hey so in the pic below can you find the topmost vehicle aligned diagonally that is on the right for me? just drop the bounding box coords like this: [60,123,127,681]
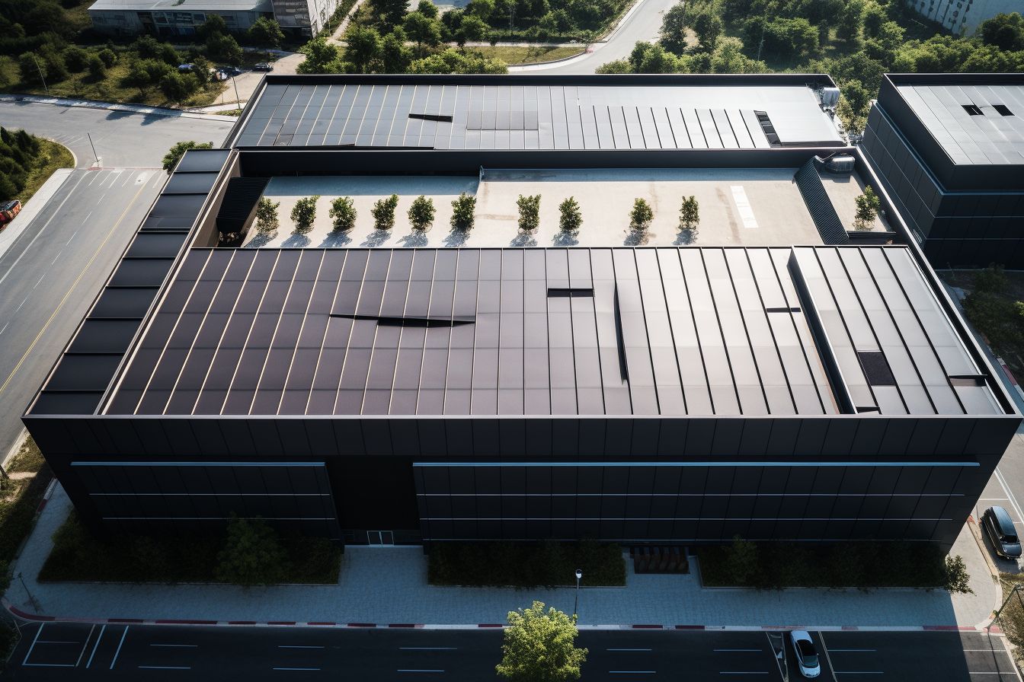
[974,510,1021,563]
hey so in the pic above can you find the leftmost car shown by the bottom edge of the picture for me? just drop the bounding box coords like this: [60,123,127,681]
[786,631,822,681]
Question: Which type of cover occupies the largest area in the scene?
buildings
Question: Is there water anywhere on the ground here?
No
